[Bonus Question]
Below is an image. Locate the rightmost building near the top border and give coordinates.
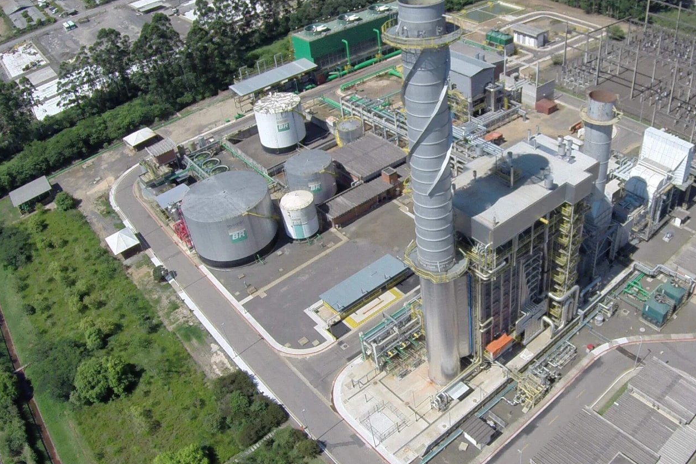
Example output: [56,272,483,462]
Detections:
[513,22,547,45]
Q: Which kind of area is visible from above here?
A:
industrial area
